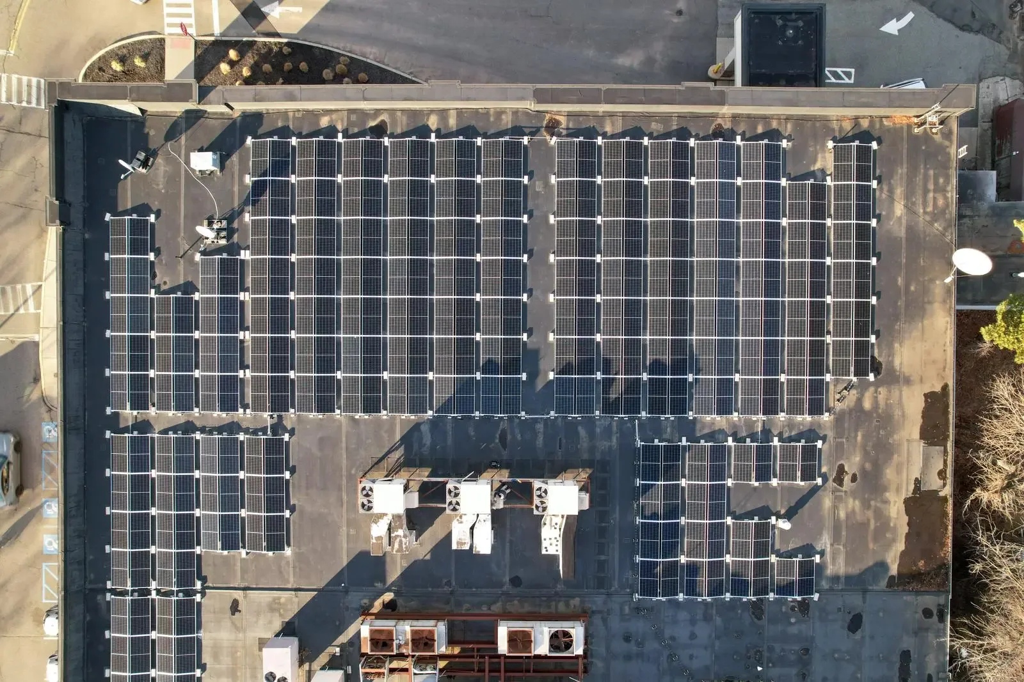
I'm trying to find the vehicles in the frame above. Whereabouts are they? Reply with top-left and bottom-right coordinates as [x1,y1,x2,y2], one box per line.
[0,434,19,512]
[44,609,58,642]
[46,659,58,682]
[880,72,947,88]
